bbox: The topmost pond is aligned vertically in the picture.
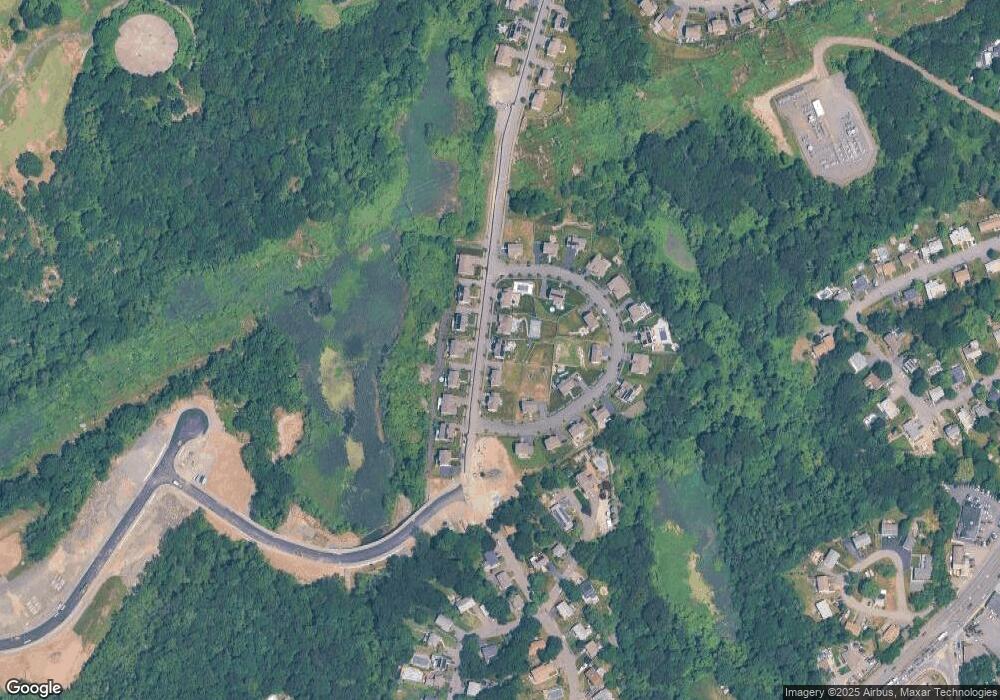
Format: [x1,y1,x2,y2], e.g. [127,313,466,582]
[395,54,459,217]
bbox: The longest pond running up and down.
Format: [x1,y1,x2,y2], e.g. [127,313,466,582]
[269,229,409,529]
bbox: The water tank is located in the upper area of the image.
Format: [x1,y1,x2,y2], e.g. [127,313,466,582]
[116,15,178,75]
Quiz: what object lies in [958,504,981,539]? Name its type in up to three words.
building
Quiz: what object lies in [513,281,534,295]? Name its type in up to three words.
swimming pool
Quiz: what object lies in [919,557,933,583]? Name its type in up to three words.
house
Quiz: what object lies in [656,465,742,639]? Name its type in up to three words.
pond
